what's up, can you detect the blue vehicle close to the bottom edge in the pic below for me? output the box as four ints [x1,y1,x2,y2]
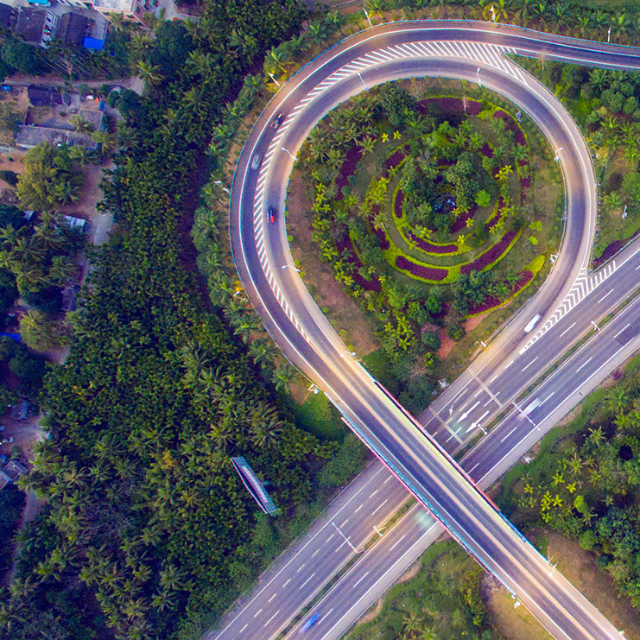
[302,614,318,631]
